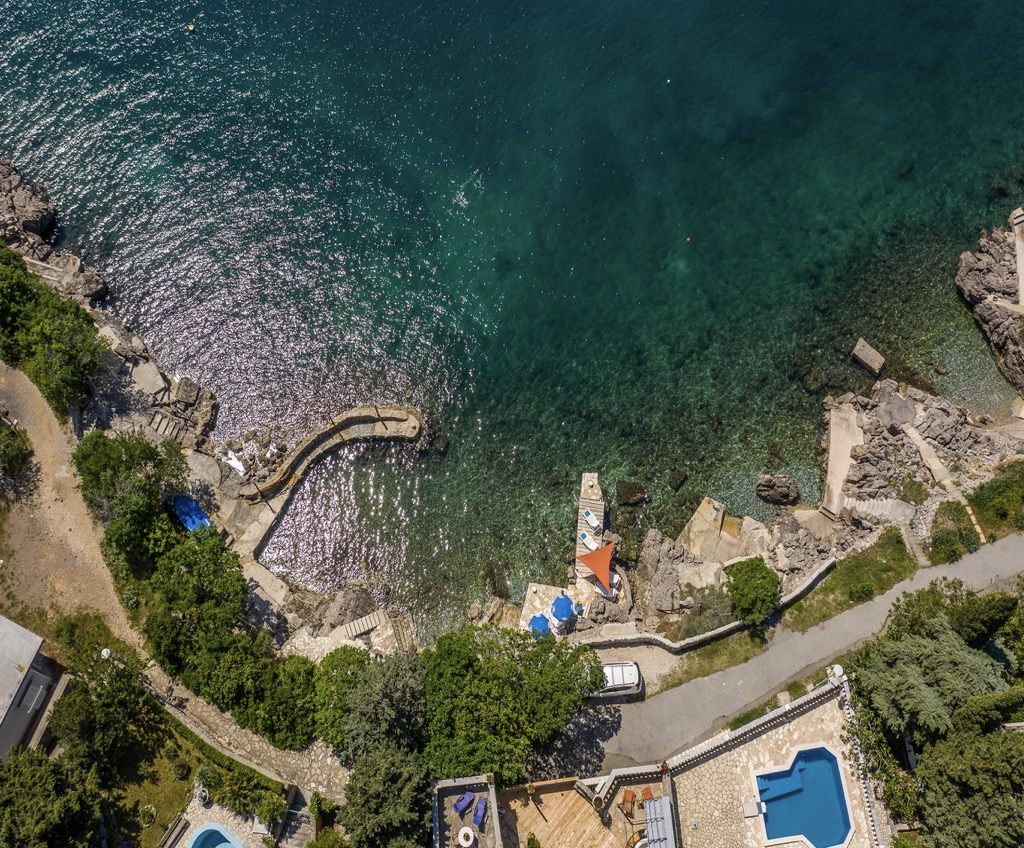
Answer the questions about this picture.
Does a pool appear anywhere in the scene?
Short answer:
Yes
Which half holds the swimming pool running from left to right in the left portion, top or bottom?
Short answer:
bottom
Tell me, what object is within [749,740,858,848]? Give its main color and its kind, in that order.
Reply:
blue swimming pool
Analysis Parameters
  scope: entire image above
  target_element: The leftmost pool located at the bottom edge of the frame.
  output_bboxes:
[185,822,246,848]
